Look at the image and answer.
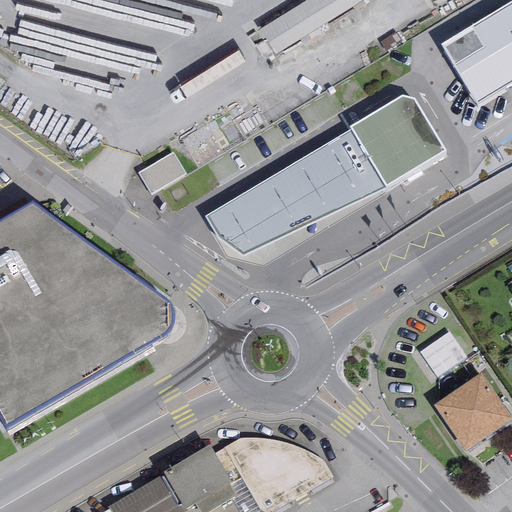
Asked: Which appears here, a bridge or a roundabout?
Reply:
roundabout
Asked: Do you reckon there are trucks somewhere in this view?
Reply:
Yes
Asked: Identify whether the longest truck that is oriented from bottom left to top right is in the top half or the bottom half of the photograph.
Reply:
top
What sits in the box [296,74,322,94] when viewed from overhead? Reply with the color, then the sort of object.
white vehicle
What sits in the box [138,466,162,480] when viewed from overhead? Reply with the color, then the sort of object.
black vehicle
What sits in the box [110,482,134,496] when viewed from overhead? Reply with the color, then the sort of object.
white vehicle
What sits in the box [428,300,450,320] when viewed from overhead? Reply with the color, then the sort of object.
white car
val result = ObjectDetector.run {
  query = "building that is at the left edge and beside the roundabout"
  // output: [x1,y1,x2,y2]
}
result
[0,197,175,434]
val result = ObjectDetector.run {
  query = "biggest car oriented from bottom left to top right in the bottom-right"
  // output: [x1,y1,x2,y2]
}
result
[436,372,456,389]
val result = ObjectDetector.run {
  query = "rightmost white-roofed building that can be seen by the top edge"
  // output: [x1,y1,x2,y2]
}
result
[441,2,512,109]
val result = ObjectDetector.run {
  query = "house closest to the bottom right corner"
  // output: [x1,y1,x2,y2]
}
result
[434,372,512,454]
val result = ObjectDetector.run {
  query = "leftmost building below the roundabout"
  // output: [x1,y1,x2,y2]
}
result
[104,474,182,512]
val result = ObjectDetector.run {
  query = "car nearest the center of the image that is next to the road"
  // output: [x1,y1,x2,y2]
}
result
[250,298,271,314]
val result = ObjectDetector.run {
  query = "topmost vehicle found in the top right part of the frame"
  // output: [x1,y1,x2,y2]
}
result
[389,50,412,66]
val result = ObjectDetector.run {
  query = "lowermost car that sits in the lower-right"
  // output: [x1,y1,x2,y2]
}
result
[370,486,384,505]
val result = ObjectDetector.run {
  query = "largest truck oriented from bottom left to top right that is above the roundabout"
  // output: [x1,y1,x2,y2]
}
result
[170,49,246,106]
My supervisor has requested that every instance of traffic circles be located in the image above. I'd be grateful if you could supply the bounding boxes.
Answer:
[154,290,334,414]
